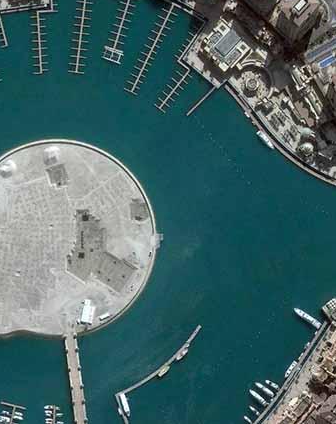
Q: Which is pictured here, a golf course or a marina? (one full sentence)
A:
The area seen from above is a marina.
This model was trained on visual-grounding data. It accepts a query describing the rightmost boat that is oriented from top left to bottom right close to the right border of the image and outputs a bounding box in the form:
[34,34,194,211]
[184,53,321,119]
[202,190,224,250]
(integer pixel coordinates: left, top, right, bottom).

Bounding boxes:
[294,308,324,328]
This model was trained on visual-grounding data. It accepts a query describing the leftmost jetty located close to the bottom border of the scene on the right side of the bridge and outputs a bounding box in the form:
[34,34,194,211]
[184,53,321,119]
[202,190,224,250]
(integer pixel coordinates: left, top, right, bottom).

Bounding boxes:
[116,324,201,424]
